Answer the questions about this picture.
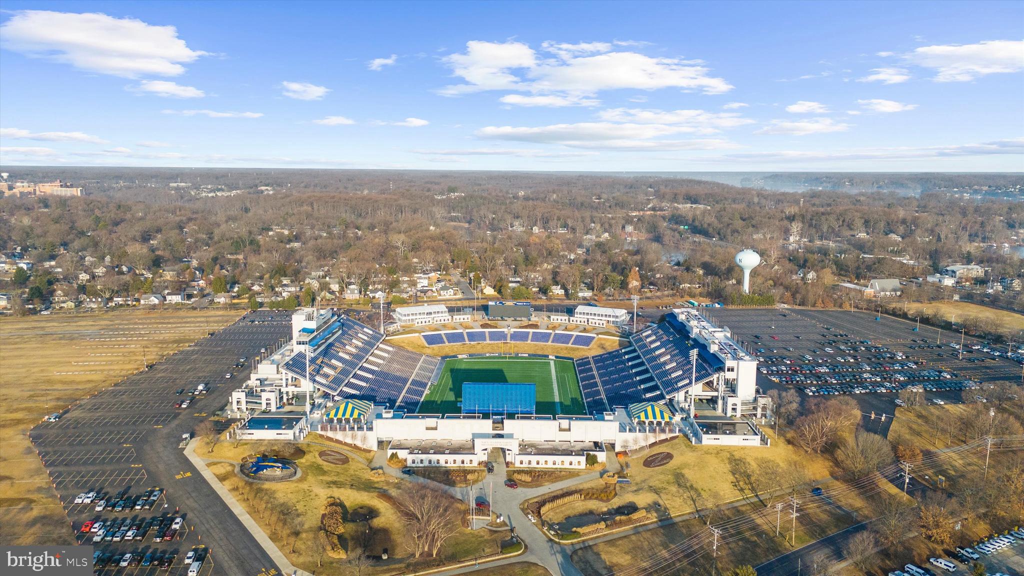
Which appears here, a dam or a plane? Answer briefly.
plane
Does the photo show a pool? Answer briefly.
No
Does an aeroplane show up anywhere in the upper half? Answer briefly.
No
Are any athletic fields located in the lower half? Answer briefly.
Yes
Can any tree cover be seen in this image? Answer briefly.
Yes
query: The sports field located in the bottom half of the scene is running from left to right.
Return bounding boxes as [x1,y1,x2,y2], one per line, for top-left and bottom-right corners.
[419,351,582,417]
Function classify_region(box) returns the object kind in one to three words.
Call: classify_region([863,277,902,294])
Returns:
building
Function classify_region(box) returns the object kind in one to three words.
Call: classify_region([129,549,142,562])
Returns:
vehicle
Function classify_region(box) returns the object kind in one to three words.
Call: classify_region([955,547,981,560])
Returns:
vehicle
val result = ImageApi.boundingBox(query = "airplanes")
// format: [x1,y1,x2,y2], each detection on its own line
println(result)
[245,448,286,473]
